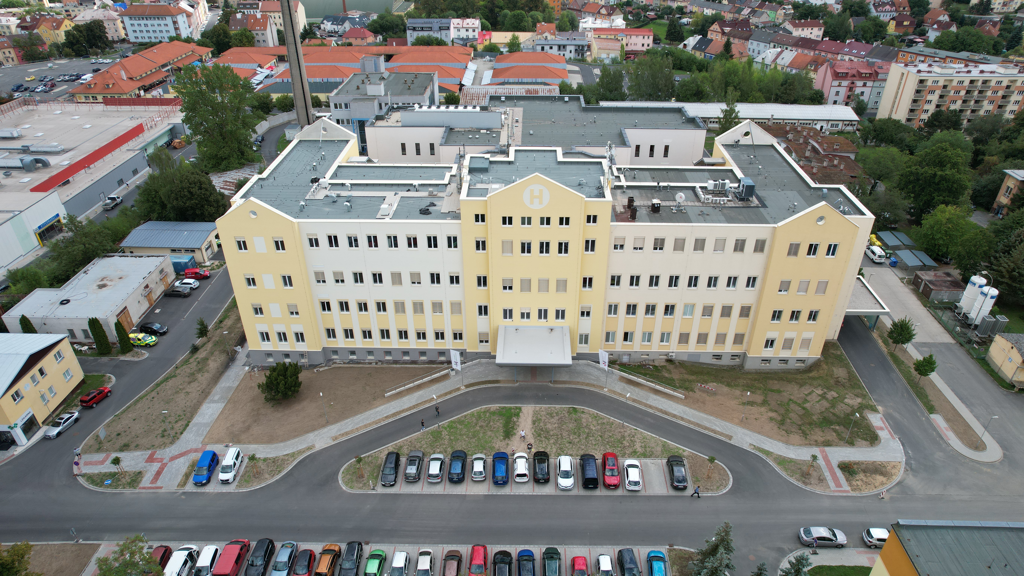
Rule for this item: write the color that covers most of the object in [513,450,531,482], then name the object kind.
white car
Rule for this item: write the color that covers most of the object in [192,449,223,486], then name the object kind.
blue van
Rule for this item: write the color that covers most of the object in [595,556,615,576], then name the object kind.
white car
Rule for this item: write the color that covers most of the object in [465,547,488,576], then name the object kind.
red car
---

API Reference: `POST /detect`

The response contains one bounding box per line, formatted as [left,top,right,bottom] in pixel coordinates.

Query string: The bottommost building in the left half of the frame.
[0,333,86,467]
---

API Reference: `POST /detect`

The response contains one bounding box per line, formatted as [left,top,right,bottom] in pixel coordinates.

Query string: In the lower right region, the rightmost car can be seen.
[861,526,890,547]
